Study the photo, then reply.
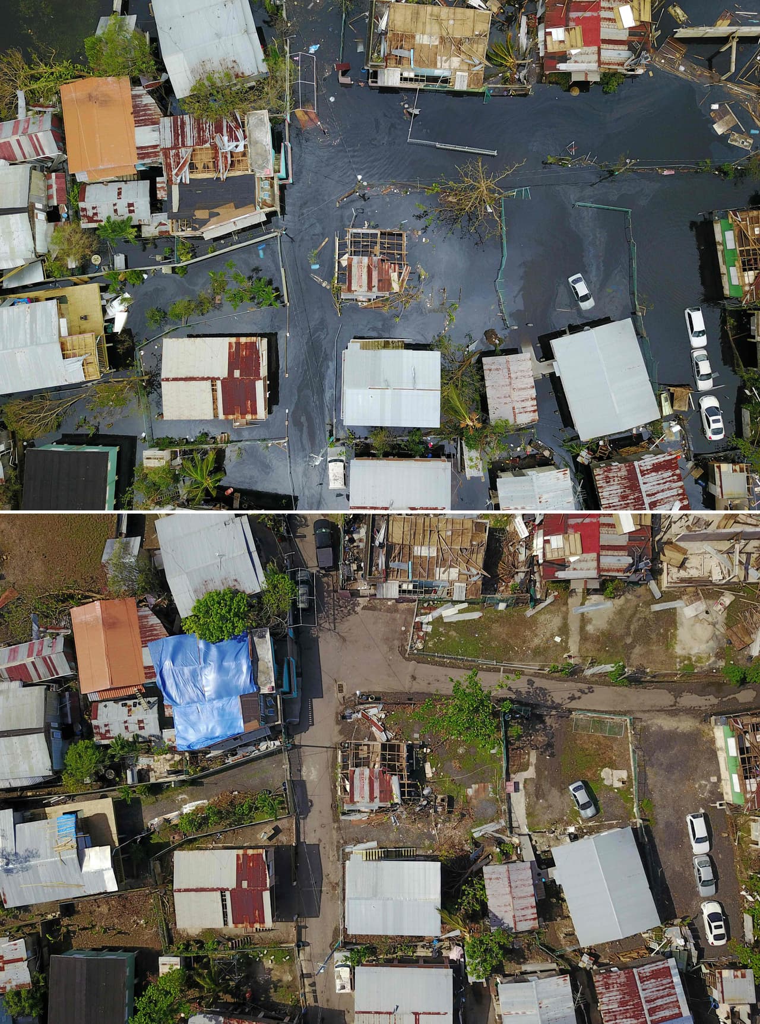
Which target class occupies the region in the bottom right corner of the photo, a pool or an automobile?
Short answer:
automobile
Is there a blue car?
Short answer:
No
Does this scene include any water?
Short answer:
Yes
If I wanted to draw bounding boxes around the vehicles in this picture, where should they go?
[569,778,596,820]
[692,853,718,898]
[566,271,593,312]
[699,395,726,442]
[325,446,347,489]
[295,570,315,610]
[684,306,709,349]
[701,899,727,947]
[686,811,712,855]
[332,949,353,996]
[691,348,716,391]
[312,519,334,569]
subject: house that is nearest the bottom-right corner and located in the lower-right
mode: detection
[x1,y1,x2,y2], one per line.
[707,963,756,1017]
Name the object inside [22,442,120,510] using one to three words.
building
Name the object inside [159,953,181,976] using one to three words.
shed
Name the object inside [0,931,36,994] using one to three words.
house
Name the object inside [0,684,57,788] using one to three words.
house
